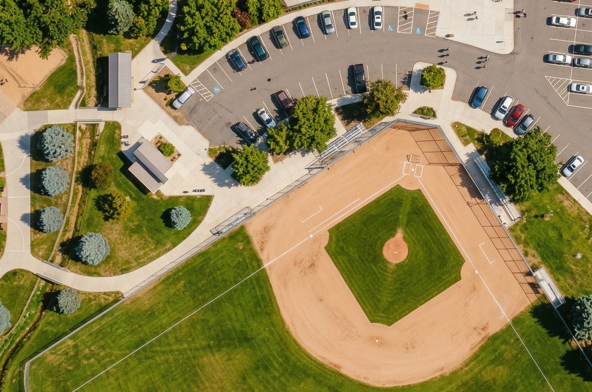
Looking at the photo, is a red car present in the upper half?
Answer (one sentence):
Yes, there is a red car in the upper half.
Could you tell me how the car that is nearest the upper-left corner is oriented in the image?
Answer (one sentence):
From this overhead view, the car that is nearest the upper-left corner appears to run at an angle.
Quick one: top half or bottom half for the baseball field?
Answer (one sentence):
You can find the baseball field in the bottom half.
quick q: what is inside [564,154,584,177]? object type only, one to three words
car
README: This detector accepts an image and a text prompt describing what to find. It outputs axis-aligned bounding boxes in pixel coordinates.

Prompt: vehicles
[294,15,311,39]
[505,104,524,127]
[346,7,359,29]
[230,49,249,73]
[174,87,195,109]
[564,154,584,177]
[374,6,383,29]
[472,85,488,109]
[322,10,336,34]
[272,25,289,49]
[237,121,258,144]
[354,62,366,93]
[579,6,592,17]
[548,54,571,64]
[495,95,514,120]
[514,112,535,135]
[569,83,592,94]
[552,16,576,27]
[574,57,592,69]
[574,44,592,55]
[249,36,268,60]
